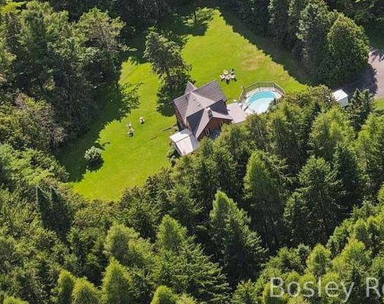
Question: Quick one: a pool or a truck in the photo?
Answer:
pool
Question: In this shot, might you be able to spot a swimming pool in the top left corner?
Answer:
No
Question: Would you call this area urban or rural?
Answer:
rural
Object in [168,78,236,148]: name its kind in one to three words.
house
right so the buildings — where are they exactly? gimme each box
[168,78,236,148]
[332,90,349,111]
